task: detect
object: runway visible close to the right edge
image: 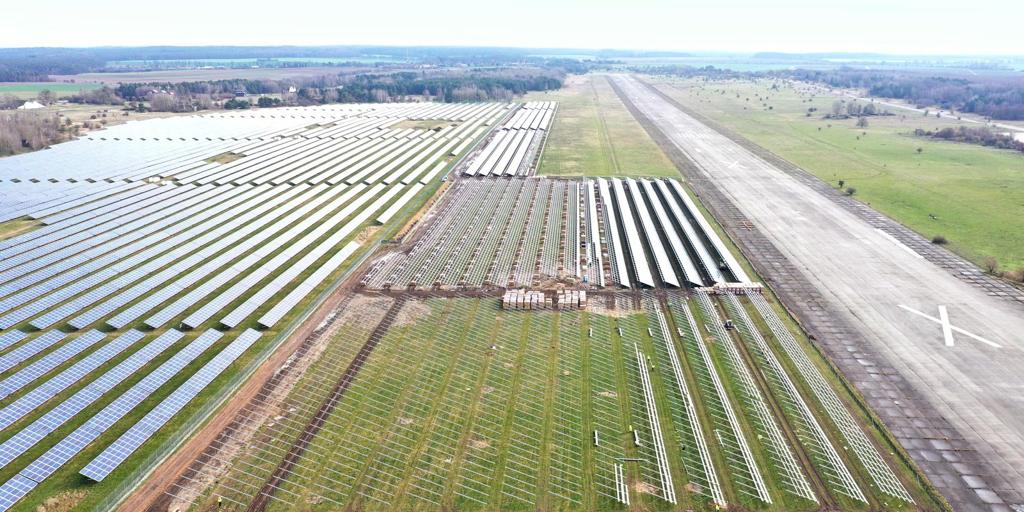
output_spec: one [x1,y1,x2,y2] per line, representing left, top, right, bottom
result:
[615,79,1024,497]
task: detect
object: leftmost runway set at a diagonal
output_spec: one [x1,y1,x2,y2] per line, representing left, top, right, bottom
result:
[612,77,739,143]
